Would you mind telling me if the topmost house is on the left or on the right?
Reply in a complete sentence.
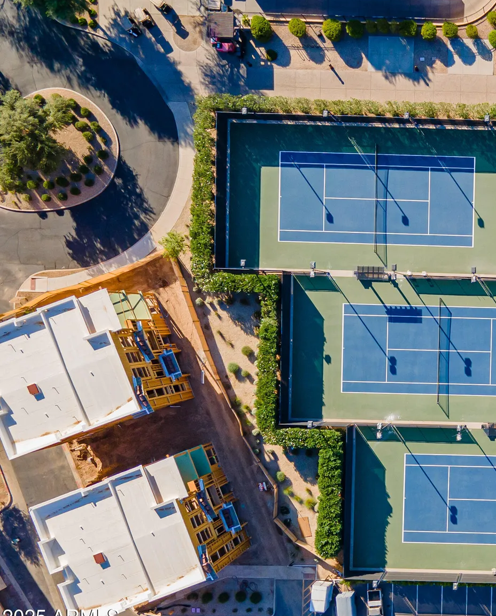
It is on the left.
